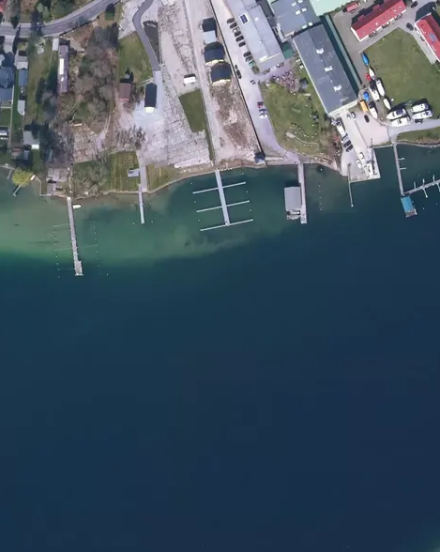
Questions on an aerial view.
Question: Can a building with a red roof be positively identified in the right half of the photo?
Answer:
Yes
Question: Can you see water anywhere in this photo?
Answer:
Yes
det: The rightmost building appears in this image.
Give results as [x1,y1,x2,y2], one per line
[415,14,440,59]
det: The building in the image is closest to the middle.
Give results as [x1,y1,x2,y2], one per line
[284,187,302,211]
